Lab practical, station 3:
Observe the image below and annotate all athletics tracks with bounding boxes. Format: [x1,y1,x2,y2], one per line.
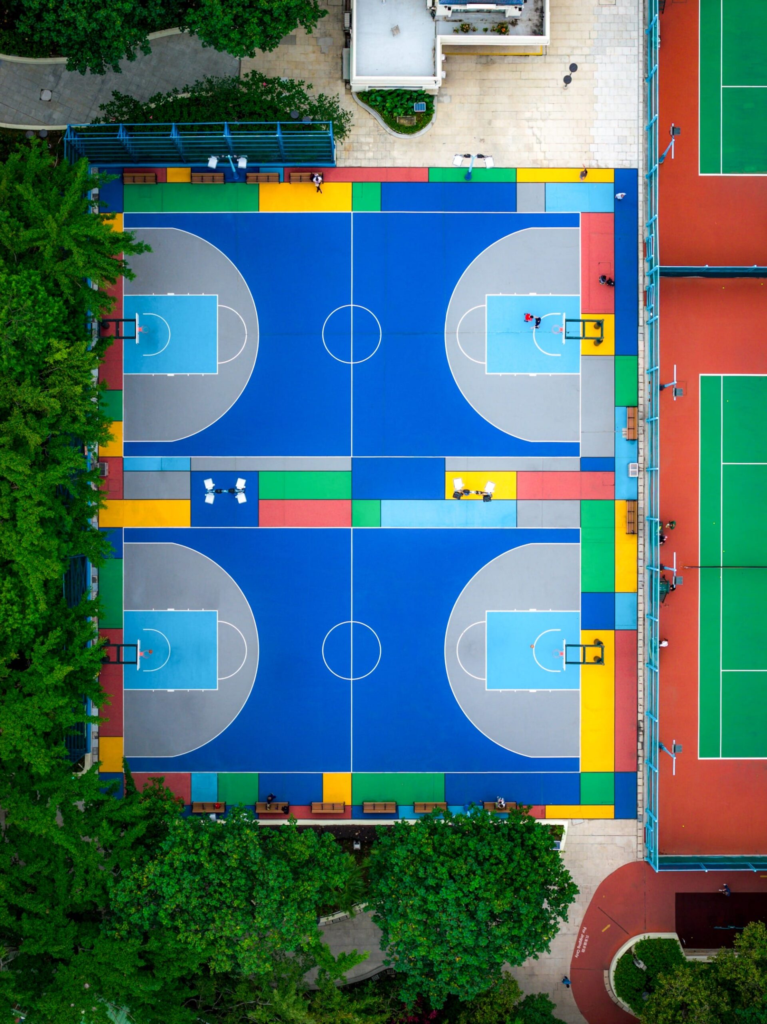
[570,858,767,1024]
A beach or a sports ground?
sports ground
